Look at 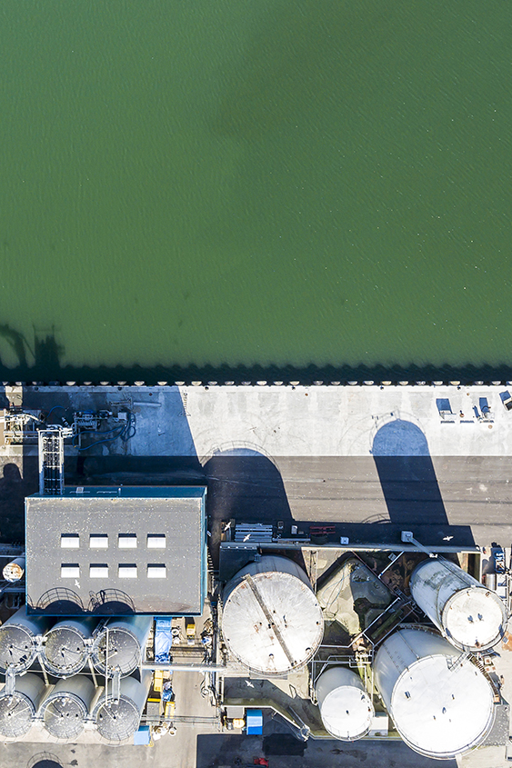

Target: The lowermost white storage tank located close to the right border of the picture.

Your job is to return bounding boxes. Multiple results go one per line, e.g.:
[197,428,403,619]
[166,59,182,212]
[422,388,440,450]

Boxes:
[371,623,498,760]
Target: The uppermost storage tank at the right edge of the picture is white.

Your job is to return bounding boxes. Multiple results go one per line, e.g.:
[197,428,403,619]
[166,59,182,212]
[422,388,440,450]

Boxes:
[413,559,511,654]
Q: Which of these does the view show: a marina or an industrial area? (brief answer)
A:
industrial area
